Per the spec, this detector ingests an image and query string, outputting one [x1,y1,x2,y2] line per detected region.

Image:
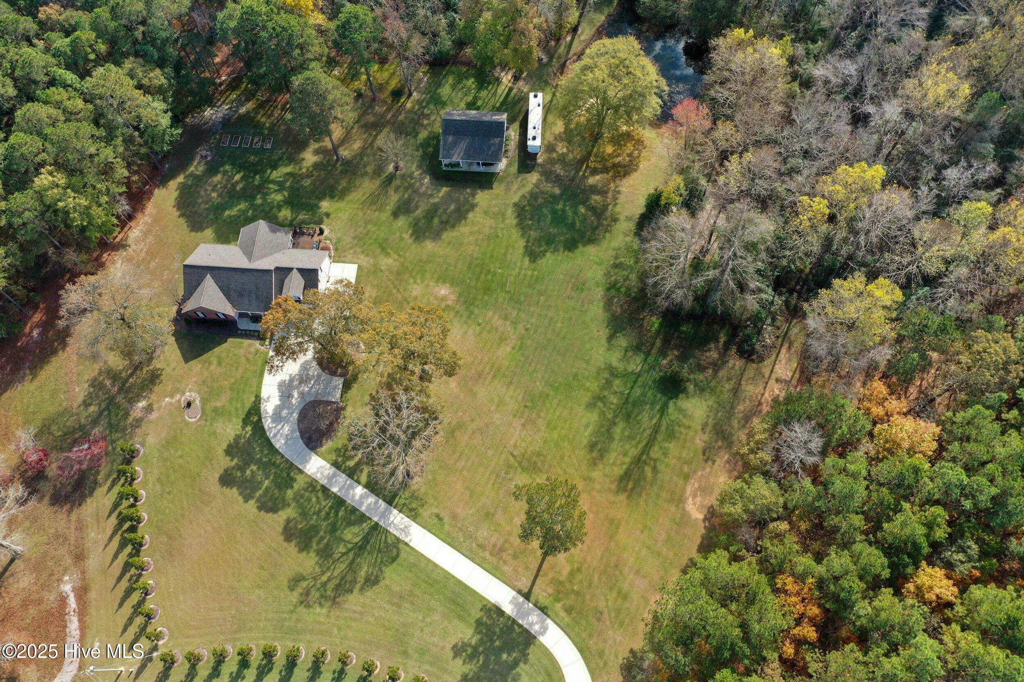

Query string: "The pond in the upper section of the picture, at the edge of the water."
[586,5,724,125]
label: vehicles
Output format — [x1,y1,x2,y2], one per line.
[527,92,542,156]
